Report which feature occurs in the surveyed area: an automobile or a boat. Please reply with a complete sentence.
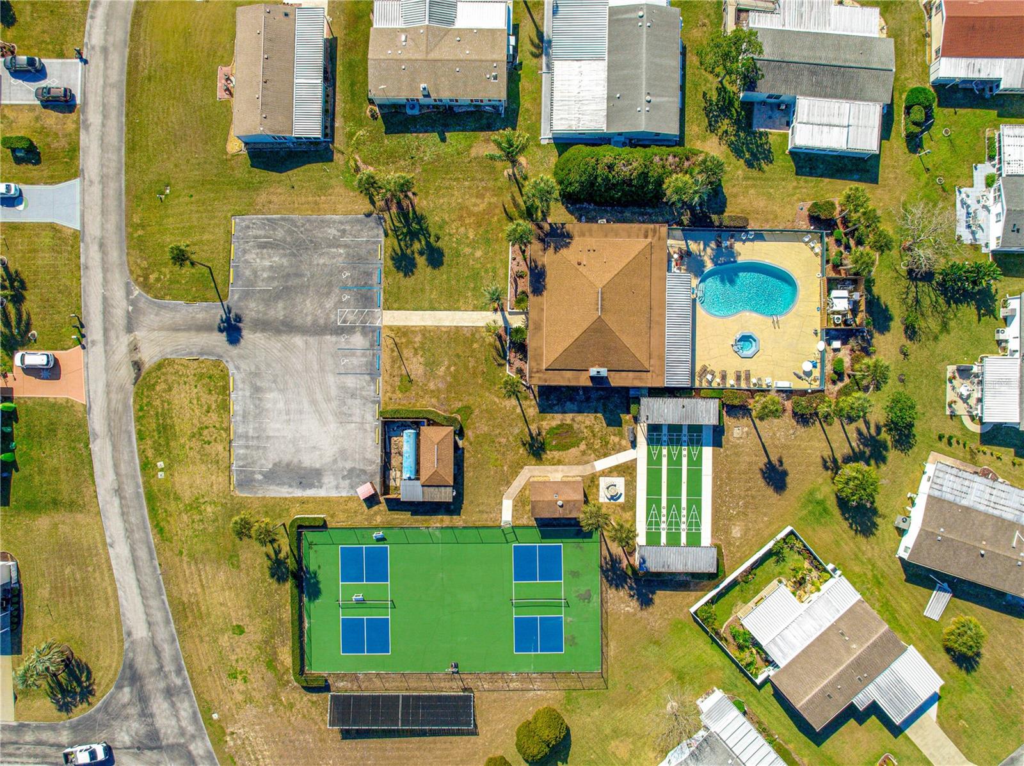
Looking from above, you can make out an automobile.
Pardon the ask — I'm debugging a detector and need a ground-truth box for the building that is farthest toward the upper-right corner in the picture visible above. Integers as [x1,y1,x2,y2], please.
[925,0,1024,95]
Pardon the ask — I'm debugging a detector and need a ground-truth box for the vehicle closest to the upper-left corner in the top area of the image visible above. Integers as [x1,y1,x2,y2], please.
[4,54,43,73]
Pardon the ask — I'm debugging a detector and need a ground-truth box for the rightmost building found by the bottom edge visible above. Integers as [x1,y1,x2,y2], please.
[735,577,944,731]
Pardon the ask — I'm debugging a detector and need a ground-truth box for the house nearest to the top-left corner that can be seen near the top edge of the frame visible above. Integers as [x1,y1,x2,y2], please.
[234,2,329,143]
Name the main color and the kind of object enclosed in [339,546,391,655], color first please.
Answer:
blue sports court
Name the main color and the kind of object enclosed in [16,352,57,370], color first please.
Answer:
white car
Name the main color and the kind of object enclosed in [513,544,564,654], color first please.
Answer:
blue sports court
